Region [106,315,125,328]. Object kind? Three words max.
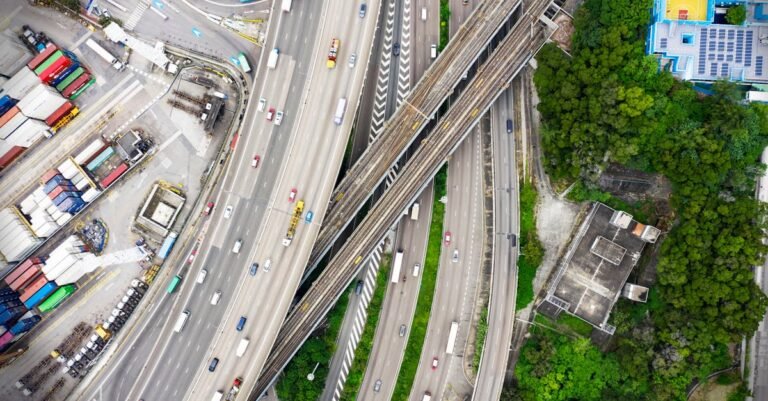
vehicle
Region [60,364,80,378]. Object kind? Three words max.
vehicle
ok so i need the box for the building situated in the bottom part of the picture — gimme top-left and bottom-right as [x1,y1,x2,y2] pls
[536,202,662,346]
